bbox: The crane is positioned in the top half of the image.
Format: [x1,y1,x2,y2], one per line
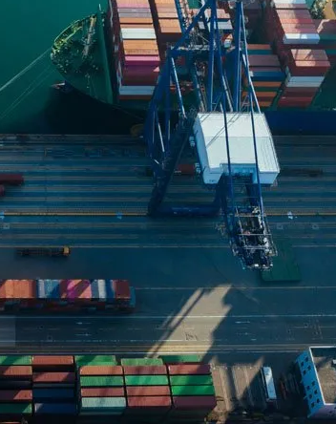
[136,0,280,271]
